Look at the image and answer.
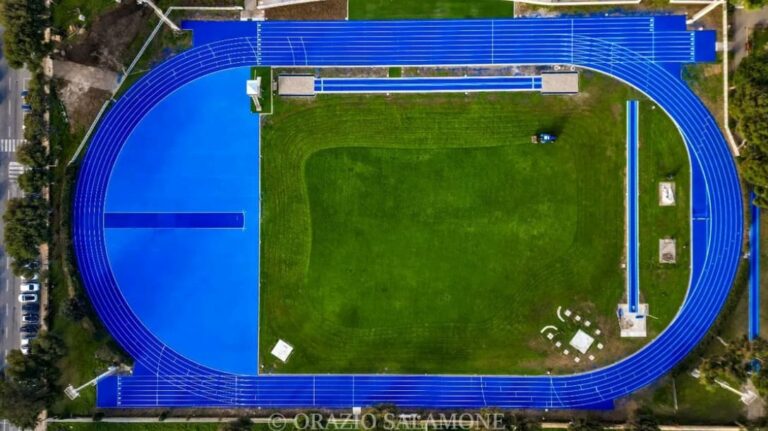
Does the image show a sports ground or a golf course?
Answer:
sports ground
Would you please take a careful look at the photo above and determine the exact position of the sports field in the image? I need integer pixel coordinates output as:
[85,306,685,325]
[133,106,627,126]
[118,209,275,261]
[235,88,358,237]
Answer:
[251,63,691,375]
